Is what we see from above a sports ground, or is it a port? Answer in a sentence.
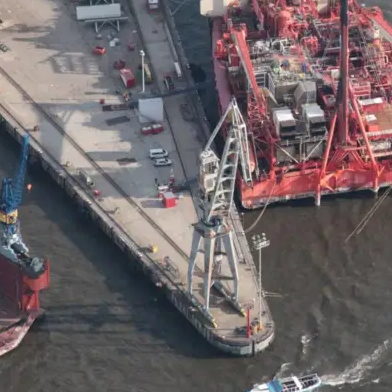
The picture captures a port.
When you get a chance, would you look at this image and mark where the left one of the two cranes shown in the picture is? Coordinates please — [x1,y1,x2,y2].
[0,137,40,271]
